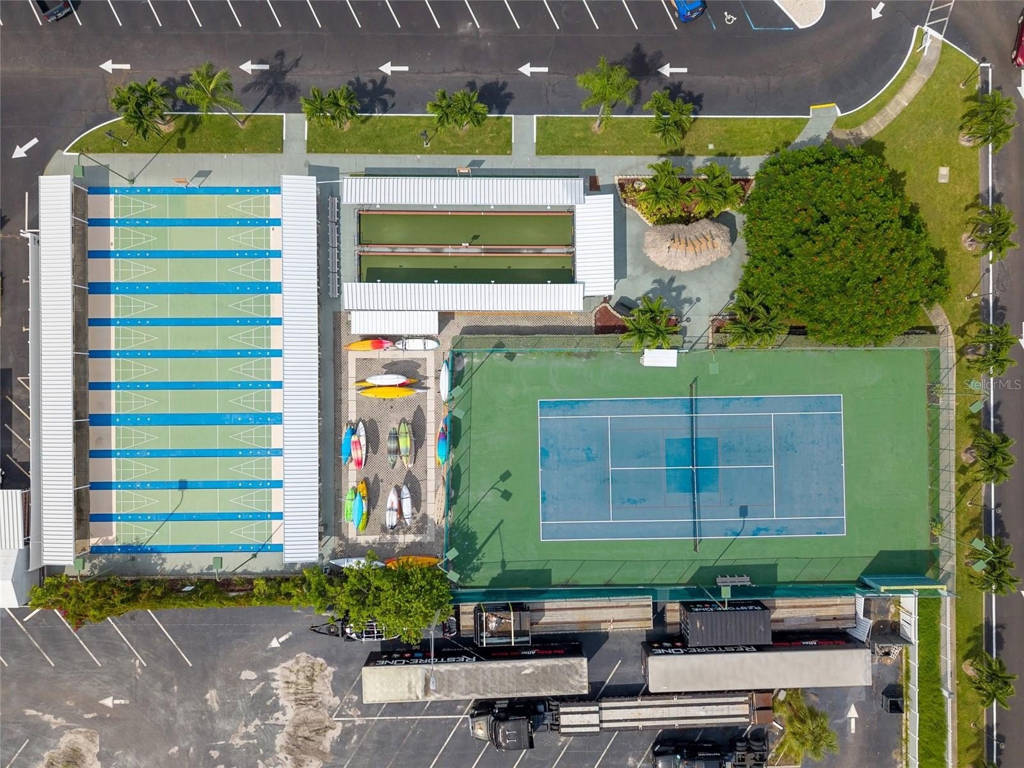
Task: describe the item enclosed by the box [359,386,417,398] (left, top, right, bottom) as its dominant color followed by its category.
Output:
yellow boat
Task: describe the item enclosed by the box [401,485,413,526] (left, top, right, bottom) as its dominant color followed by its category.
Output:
white boat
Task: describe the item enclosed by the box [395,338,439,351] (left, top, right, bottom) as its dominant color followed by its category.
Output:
white boat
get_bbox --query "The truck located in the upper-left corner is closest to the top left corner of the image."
[36,0,71,24]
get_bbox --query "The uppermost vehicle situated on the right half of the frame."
[670,0,703,24]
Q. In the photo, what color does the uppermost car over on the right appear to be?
blue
